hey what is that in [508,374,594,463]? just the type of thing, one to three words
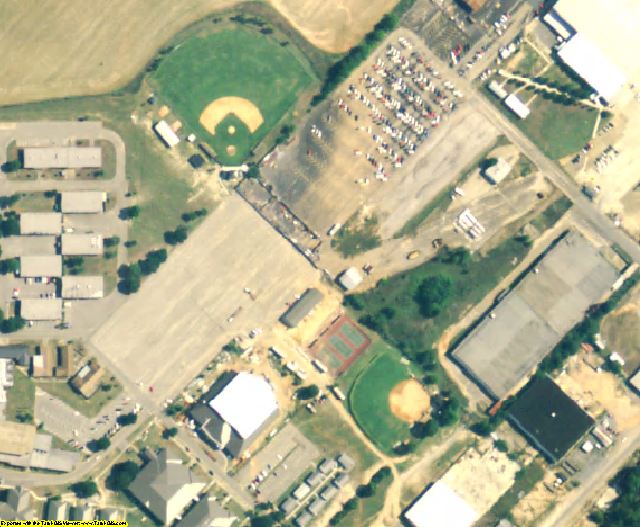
building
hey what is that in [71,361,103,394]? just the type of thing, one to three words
building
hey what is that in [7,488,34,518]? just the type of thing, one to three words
house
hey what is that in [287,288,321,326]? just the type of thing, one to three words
shed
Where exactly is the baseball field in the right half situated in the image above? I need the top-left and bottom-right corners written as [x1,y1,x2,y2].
[351,345,431,456]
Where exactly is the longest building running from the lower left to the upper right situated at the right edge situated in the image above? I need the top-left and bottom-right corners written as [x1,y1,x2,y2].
[452,231,621,399]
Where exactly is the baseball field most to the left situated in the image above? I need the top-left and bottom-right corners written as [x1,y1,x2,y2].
[153,26,312,166]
